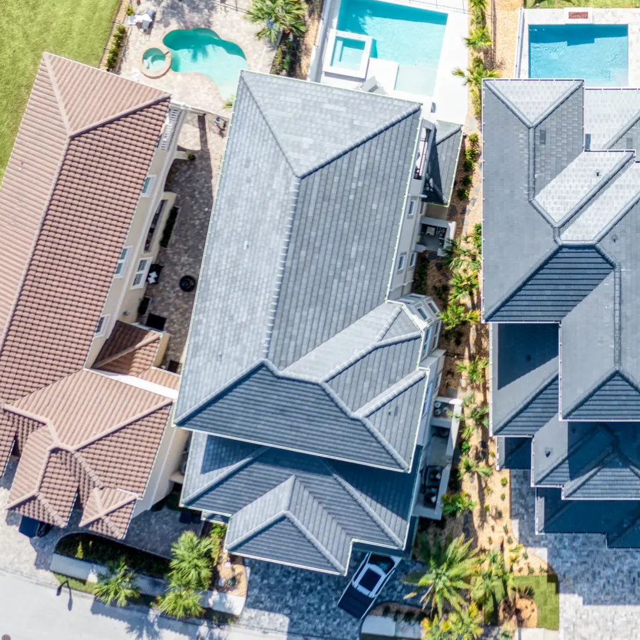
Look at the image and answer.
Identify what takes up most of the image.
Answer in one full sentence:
What you mostly see from above here is buildings.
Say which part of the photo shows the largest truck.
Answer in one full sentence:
The largest truck is in the bottom part of the image.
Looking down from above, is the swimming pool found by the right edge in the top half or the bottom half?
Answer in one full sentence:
The swimming pool found by the right edge sits in the top half of the picture.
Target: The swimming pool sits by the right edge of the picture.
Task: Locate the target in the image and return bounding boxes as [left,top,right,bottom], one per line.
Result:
[524,19,633,87]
